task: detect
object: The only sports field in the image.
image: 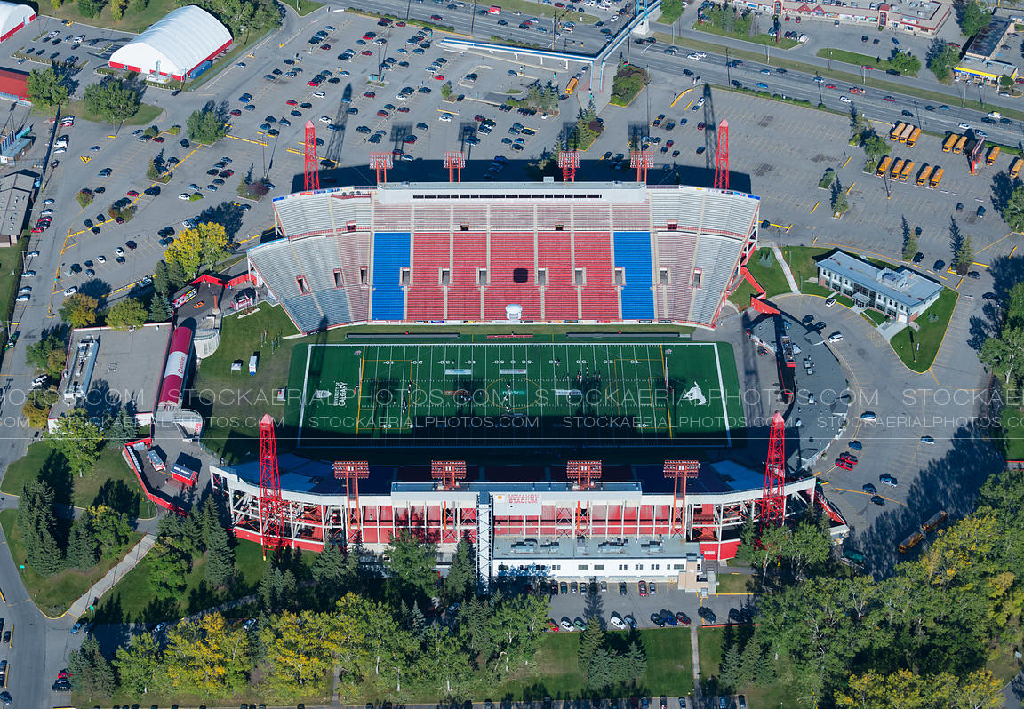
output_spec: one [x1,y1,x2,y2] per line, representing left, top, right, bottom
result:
[278,334,751,456]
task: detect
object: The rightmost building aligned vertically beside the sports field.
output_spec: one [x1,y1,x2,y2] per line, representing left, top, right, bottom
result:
[774,313,849,475]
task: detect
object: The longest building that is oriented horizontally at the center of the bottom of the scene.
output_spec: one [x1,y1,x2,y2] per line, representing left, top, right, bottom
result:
[489,534,718,594]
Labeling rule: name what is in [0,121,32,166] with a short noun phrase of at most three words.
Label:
building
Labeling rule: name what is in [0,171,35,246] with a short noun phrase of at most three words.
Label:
building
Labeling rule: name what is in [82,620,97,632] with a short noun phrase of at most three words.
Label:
vehicle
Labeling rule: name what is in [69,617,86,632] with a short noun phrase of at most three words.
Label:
vehicle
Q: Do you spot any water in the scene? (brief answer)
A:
No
